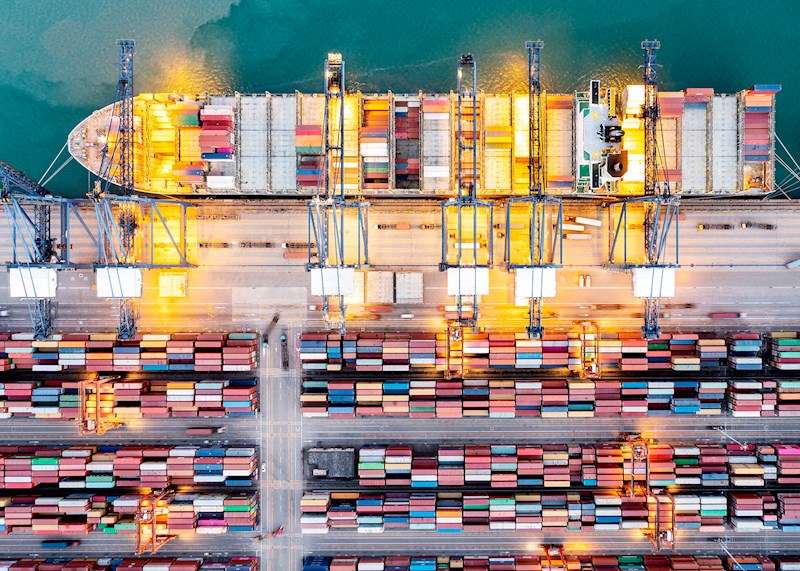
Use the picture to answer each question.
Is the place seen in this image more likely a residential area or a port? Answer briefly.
port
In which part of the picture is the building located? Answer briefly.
bottom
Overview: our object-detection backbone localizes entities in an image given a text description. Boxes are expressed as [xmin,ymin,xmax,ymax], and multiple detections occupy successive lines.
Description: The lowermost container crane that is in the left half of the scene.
[135,484,179,553]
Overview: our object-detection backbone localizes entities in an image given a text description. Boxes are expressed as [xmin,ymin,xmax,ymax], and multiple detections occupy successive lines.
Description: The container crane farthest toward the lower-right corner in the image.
[641,484,677,553]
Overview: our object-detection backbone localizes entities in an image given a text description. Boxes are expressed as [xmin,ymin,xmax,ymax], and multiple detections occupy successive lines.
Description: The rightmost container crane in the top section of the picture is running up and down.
[595,40,683,336]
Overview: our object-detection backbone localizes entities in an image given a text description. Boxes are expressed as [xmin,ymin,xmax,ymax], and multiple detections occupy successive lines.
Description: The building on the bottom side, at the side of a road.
[305,449,352,480]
